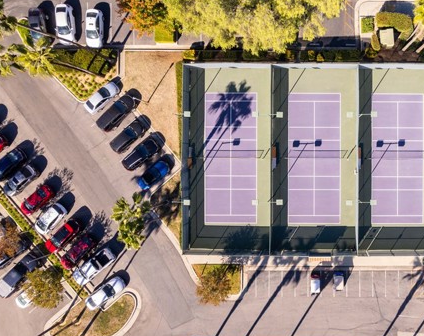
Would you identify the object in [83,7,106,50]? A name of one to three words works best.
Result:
car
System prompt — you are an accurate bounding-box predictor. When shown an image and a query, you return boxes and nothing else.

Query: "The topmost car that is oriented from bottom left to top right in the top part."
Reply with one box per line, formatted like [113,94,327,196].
[83,79,123,111]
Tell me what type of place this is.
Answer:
sports ground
